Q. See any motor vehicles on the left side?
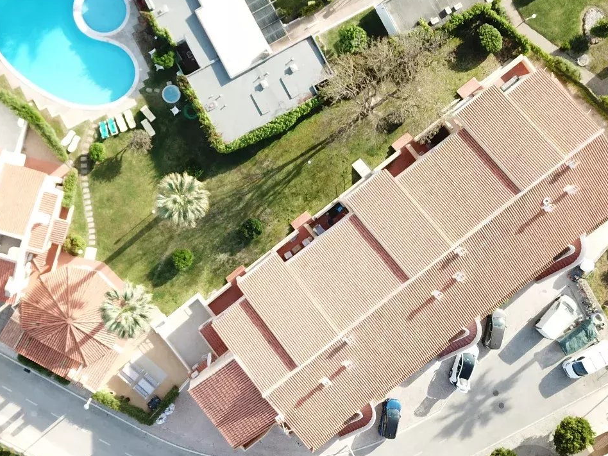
No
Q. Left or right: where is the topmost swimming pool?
left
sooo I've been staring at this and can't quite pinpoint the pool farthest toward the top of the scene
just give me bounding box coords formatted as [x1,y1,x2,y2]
[80,0,131,36]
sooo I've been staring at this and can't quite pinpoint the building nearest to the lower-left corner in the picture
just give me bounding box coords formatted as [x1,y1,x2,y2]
[0,260,127,394]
